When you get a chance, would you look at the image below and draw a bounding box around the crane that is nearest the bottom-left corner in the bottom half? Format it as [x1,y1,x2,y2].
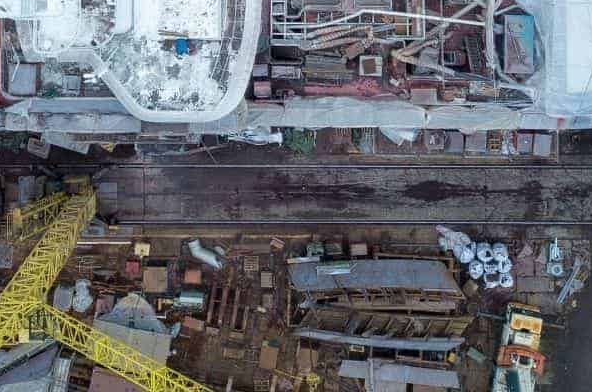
[0,166,235,392]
